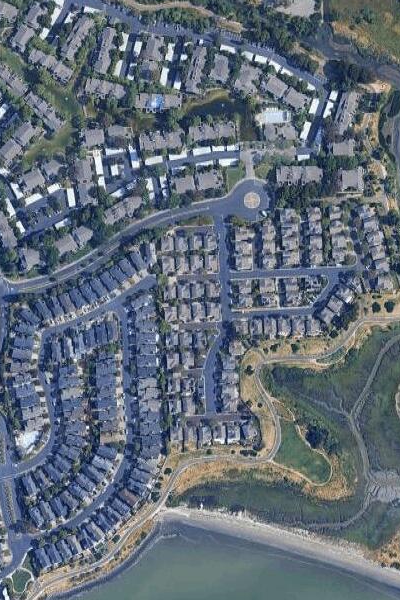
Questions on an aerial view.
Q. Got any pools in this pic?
Yes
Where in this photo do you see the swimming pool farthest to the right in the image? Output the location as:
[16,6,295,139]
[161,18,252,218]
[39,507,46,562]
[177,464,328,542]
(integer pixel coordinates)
[255,107,290,124]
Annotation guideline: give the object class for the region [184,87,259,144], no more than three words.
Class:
pond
